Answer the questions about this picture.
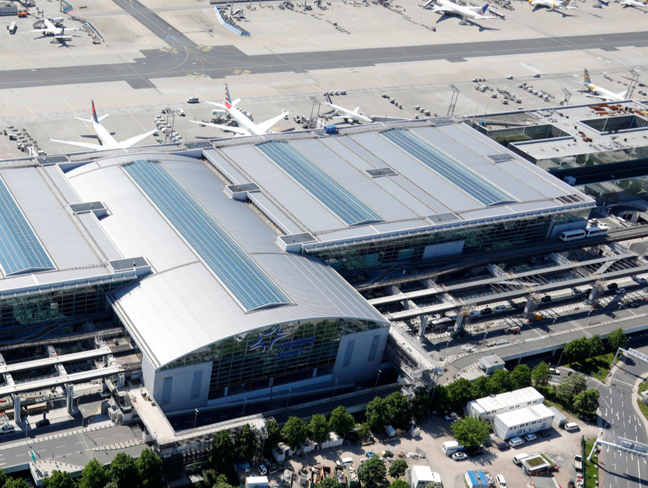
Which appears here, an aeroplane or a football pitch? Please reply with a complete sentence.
Of the two, only an aeroplane appears.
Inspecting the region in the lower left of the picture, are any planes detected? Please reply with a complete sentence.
No, the scene shows no plane in the lower left of the picture.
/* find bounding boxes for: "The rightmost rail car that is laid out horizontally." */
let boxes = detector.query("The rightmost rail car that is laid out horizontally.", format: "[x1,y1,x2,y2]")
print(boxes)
[588,225,615,240]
